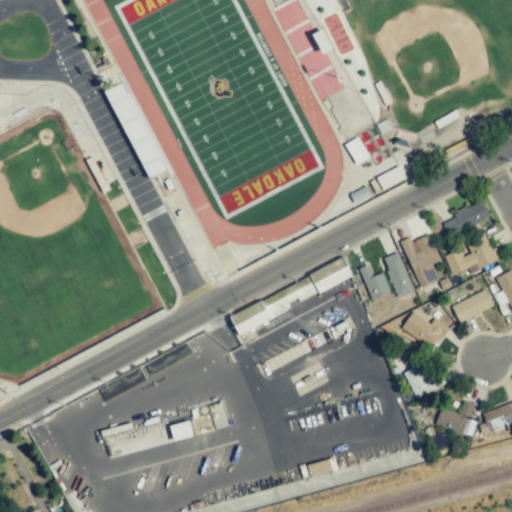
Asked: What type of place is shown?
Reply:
sports ground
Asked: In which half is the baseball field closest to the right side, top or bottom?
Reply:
top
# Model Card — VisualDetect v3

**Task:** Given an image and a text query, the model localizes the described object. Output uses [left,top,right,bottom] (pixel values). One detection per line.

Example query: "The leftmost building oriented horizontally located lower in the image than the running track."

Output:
[101,421,174,458]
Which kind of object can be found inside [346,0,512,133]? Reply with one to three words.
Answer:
baseball field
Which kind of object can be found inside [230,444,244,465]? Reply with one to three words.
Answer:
vehicle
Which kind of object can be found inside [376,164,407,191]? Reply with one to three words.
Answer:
shed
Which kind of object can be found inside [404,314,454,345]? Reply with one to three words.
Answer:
house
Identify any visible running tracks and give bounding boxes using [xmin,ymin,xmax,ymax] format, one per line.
[86,0,344,248]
